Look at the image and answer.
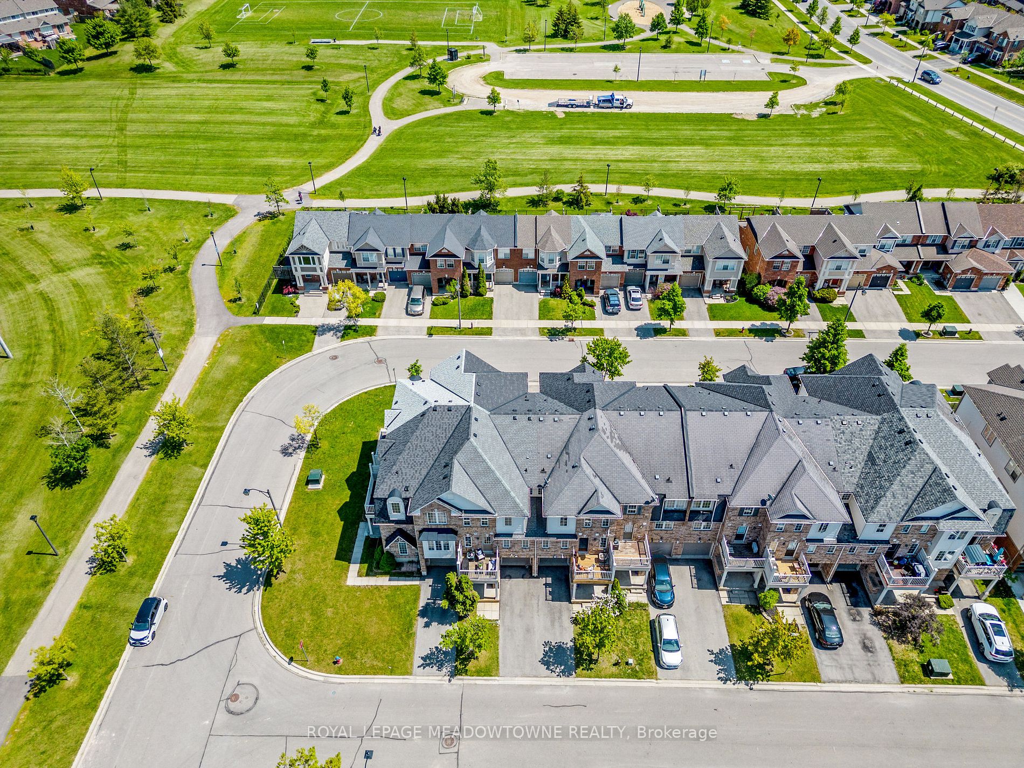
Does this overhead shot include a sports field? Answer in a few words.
Yes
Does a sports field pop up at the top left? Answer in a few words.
Yes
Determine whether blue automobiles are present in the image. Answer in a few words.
Yes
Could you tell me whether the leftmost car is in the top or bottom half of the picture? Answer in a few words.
bottom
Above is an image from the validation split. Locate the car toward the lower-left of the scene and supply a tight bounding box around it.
[131,594,171,642]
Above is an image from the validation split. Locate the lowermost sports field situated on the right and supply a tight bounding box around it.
[316,79,1024,199]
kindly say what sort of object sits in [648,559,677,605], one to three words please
car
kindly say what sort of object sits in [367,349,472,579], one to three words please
house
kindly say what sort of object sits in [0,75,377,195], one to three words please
sports field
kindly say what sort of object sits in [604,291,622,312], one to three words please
car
